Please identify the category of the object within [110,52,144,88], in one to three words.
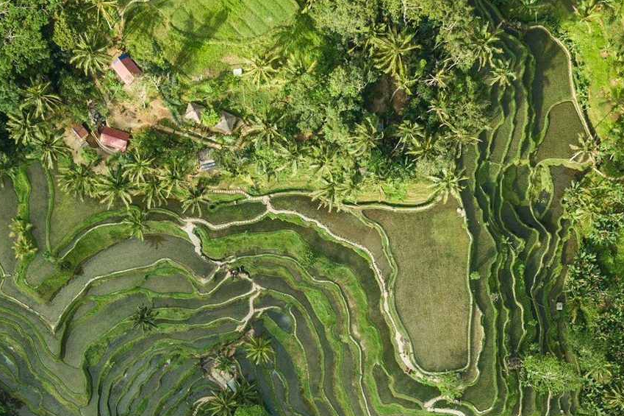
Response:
house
